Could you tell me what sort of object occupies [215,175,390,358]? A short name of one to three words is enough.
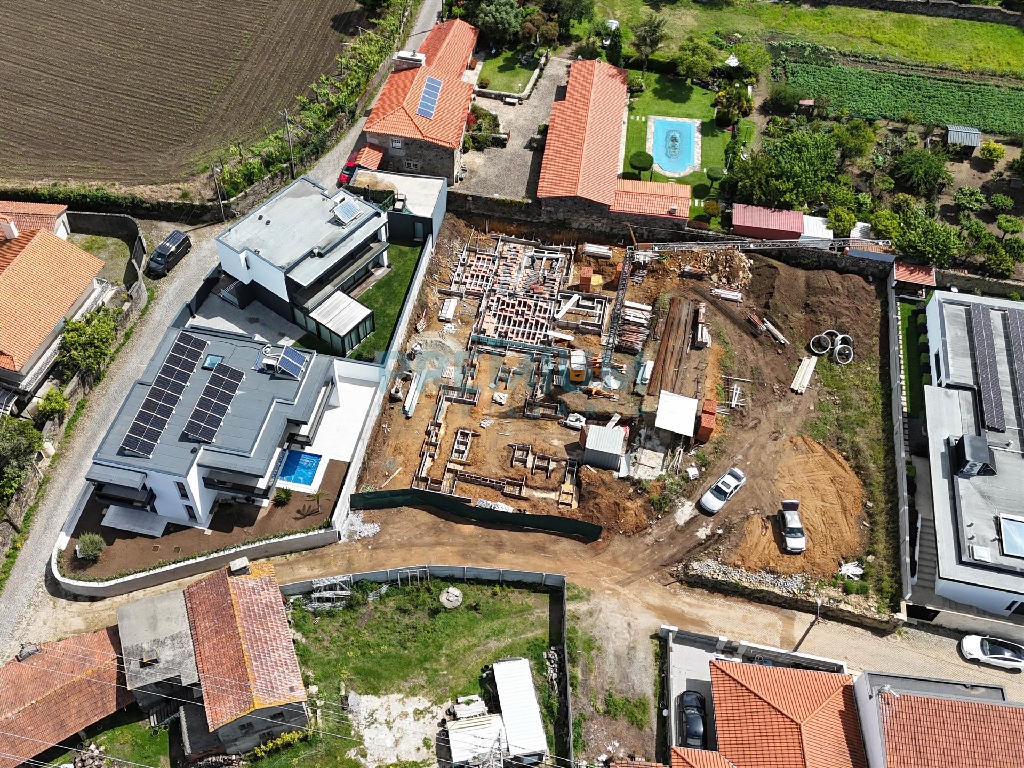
house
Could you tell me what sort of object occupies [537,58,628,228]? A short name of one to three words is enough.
barn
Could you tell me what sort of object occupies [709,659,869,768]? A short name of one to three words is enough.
house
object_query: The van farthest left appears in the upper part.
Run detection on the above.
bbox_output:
[149,227,194,278]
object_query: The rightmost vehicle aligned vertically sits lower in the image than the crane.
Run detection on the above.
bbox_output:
[779,496,810,555]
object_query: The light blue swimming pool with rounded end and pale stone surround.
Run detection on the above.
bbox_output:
[647,115,701,178]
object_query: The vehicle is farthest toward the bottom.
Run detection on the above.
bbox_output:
[676,685,712,754]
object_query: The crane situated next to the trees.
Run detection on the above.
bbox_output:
[591,224,892,372]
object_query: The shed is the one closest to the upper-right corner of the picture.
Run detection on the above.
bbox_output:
[942,128,980,161]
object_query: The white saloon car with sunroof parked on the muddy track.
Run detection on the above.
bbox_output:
[698,464,749,517]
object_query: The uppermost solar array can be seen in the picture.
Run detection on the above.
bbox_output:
[417,75,443,117]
